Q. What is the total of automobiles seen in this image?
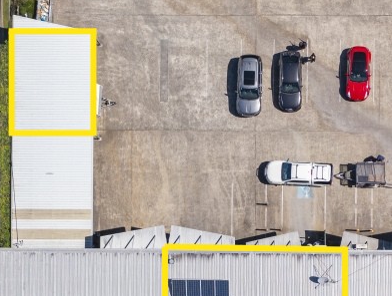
4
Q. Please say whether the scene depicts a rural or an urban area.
urban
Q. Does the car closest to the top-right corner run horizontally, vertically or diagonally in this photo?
vertically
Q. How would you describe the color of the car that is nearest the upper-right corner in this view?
red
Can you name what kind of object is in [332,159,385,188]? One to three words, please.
trailer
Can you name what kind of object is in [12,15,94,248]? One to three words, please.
shed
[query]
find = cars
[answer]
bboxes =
[233,53,263,116]
[345,43,374,101]
[264,158,333,186]
[276,48,305,111]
